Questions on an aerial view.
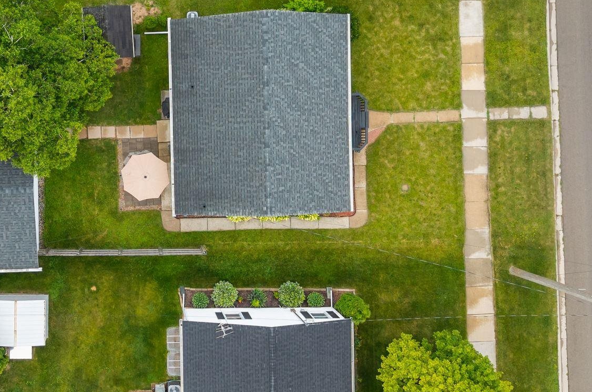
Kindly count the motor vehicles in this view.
0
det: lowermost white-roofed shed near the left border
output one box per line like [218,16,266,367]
[0,291,49,358]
